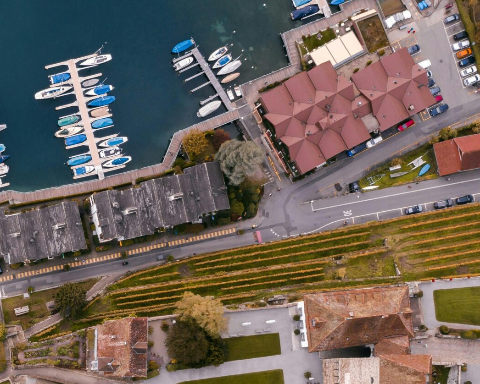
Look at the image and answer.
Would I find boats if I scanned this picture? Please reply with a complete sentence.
Yes, there's a boat down there.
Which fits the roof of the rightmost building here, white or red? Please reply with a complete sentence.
The roof of the rightmost building looks red in the image.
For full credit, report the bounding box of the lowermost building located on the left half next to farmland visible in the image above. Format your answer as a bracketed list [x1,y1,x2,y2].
[91,318,148,377]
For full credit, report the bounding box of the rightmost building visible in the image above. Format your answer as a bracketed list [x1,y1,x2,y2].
[425,134,480,177]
